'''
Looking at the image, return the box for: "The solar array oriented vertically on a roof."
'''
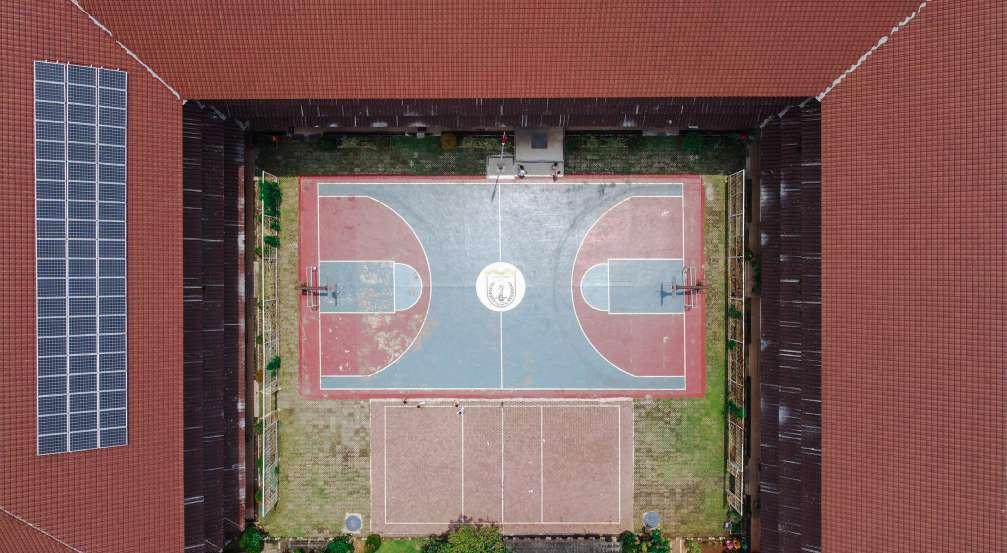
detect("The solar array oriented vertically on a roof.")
[33,60,127,457]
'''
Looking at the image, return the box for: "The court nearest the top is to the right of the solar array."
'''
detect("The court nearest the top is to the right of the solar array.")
[299,175,705,399]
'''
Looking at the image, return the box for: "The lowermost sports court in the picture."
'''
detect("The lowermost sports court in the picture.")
[370,398,633,535]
